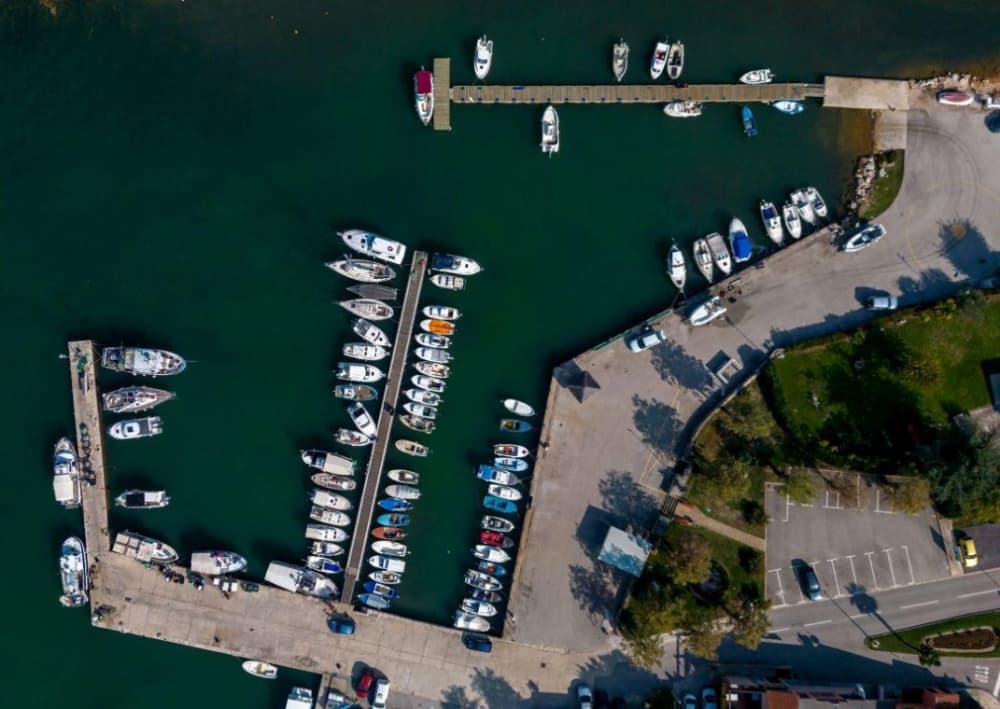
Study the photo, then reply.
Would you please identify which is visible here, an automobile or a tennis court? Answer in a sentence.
The image shows an automobile.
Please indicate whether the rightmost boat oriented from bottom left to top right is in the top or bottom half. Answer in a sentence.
The rightmost boat oriented from bottom left to top right sits in the top half of the picture.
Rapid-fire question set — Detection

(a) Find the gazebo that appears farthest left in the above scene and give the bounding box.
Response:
[568,371,600,402]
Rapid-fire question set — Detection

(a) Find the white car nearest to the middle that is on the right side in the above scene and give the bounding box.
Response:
[628,329,667,354]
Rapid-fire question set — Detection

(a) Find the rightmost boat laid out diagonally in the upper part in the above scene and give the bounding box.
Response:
[845,221,888,252]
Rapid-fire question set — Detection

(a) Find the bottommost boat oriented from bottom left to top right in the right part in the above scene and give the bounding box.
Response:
[690,298,727,326]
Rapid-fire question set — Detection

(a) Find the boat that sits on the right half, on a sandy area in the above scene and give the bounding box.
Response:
[938,90,975,105]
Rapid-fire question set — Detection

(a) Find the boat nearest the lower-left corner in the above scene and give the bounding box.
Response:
[60,536,90,607]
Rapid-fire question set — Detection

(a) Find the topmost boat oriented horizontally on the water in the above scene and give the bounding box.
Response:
[739,70,775,85]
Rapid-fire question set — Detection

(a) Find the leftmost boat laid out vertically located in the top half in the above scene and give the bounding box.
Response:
[412,66,434,125]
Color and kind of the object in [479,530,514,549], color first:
red boat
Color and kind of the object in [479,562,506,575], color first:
blue boat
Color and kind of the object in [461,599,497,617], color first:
white boat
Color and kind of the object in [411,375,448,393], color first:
white boat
